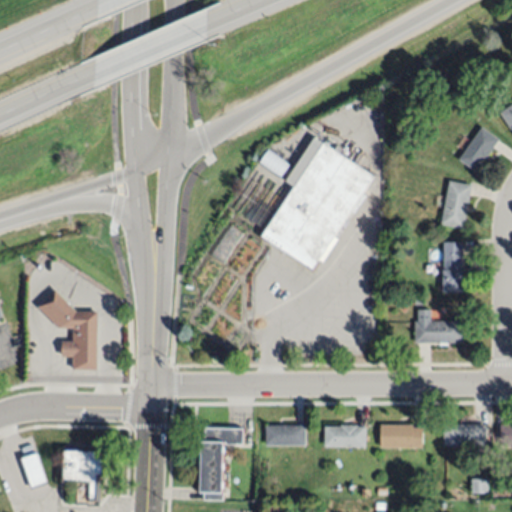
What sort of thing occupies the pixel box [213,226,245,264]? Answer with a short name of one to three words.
greenhouse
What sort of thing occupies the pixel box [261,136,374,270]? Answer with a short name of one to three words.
warehouse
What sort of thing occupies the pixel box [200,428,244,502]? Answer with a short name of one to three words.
house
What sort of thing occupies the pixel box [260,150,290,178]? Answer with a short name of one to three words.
shed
